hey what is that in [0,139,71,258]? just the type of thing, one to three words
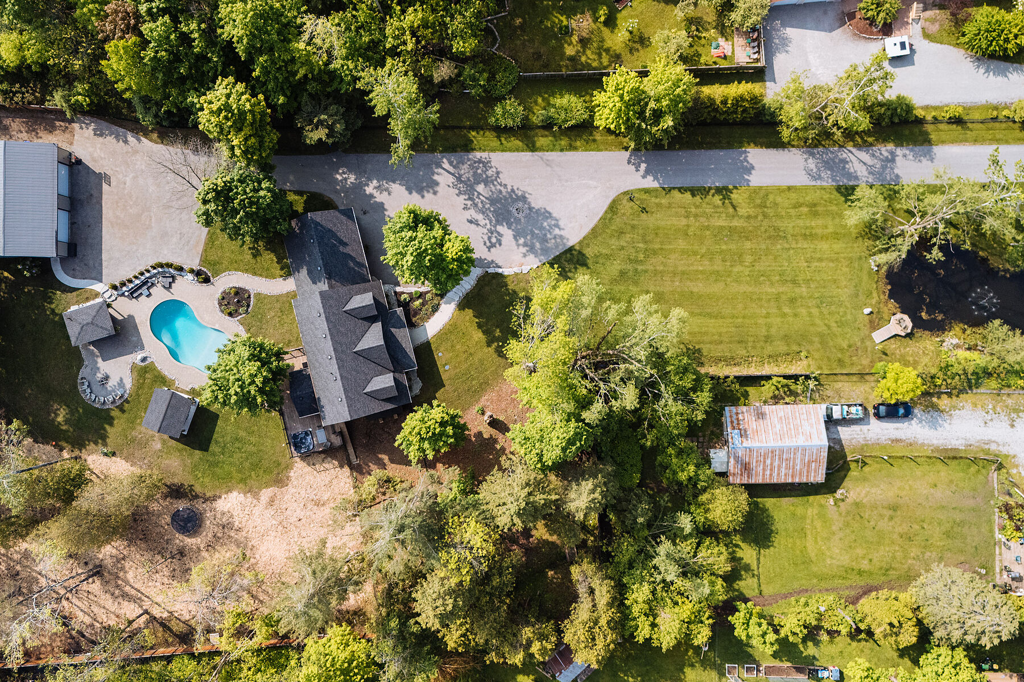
building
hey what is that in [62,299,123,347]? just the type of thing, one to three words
building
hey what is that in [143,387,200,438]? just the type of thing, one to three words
shed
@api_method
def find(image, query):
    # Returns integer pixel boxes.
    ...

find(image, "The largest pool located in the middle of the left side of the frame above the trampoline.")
[147,297,235,376]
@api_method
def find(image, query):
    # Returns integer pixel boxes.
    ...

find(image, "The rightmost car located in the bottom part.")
[873,402,913,421]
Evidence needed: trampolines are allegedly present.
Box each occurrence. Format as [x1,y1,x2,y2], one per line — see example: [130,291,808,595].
[171,506,203,536]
